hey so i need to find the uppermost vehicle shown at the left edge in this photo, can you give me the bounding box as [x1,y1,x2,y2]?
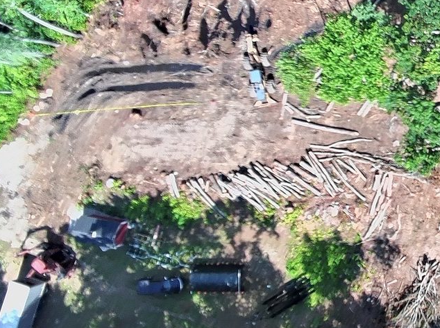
[11,237,80,283]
